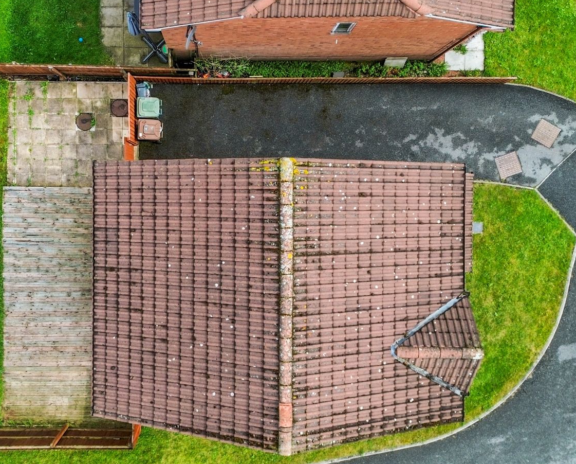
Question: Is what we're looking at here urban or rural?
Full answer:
The area is urban.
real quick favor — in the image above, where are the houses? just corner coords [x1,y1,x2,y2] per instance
[138,0,517,64]
[89,154,486,453]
